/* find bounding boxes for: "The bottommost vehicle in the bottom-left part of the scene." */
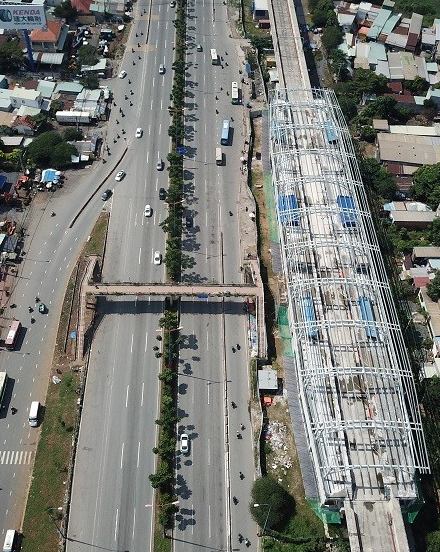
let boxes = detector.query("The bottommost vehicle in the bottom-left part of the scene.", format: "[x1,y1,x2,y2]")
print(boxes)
[2,526,17,552]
